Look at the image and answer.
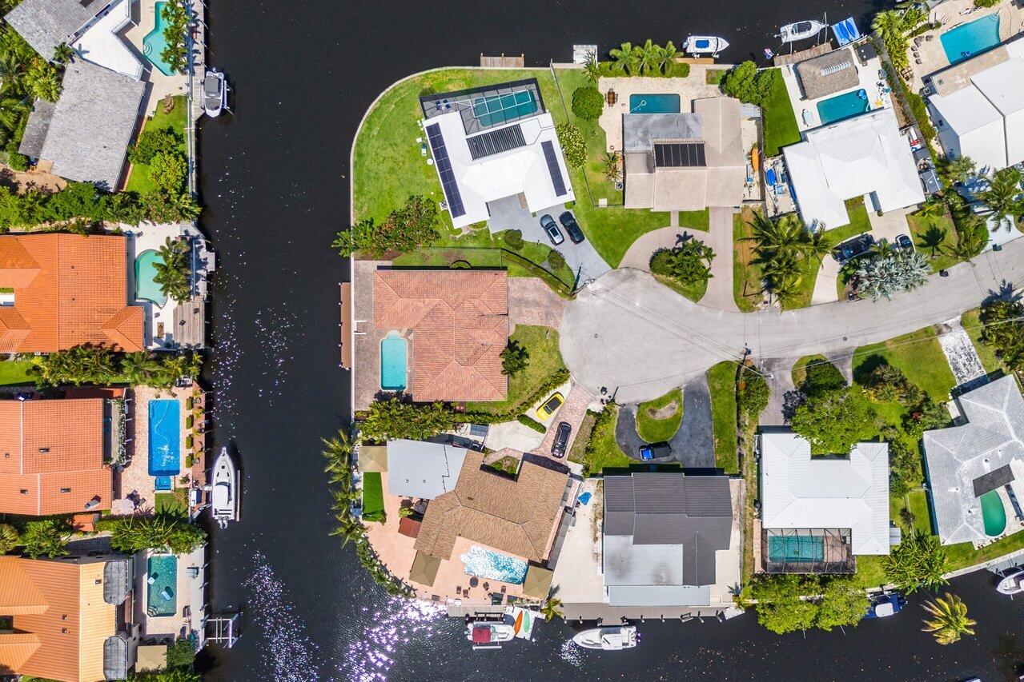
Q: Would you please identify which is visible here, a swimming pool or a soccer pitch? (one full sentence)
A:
Looking from above, you can make out a swimming pool.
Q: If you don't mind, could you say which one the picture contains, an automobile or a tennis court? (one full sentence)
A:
This aerial view contains an automobile.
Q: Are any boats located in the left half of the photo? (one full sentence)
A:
Yes, I can see a boat in the left half of the photo.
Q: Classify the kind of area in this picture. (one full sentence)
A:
The picture captures a residential area.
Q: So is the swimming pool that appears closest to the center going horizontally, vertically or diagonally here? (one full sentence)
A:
What the image shows is the swimming pool that appears closest to the center lying vertically.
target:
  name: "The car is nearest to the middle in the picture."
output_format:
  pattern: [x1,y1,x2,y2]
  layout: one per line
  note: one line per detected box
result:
[536,390,565,422]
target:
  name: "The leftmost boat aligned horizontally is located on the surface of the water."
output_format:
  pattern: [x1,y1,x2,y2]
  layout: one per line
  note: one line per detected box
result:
[463,625,515,646]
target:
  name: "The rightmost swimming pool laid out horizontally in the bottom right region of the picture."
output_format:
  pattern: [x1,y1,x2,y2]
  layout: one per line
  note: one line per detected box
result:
[768,536,825,564]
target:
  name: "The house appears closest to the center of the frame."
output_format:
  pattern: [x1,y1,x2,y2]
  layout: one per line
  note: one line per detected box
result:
[374,270,509,401]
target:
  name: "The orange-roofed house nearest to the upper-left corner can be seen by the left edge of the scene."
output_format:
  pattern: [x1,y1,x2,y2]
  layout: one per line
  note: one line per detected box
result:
[0,233,150,353]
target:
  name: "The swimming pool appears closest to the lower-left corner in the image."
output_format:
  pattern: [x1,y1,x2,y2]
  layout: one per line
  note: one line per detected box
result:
[146,555,178,619]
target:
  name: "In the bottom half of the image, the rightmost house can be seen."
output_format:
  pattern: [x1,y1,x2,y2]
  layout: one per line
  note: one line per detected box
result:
[916,374,1024,546]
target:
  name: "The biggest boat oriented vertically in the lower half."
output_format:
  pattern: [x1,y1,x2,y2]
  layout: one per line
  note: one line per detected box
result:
[212,448,235,526]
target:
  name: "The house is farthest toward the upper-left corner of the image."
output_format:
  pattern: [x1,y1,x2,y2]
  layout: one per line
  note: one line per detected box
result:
[5,0,152,194]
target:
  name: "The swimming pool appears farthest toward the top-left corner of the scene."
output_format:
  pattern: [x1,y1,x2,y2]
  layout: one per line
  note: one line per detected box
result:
[141,0,181,77]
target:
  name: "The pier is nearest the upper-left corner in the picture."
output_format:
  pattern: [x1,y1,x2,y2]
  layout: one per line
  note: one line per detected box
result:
[192,0,213,120]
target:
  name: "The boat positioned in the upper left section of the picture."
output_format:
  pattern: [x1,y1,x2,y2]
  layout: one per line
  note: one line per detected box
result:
[203,67,223,117]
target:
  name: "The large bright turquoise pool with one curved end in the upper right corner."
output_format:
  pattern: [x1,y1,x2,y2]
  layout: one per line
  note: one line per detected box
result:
[939,12,1003,66]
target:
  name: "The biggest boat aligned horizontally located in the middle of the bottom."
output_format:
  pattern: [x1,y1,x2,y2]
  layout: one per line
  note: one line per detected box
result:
[573,626,641,650]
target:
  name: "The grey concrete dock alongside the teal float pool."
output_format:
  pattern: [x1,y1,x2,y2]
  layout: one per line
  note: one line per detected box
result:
[191,549,212,653]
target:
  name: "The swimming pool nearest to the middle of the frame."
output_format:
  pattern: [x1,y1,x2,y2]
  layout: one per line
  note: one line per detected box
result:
[379,330,409,391]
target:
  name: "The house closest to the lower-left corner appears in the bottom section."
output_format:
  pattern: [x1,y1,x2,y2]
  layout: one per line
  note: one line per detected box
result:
[0,549,150,682]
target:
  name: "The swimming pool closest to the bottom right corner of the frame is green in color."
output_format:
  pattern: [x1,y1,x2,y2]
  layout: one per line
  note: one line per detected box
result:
[981,490,1008,538]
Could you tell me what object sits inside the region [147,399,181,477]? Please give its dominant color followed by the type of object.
blue swimming pool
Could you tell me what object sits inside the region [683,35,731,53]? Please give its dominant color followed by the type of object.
white boat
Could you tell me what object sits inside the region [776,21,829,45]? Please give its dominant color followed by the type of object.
white boat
